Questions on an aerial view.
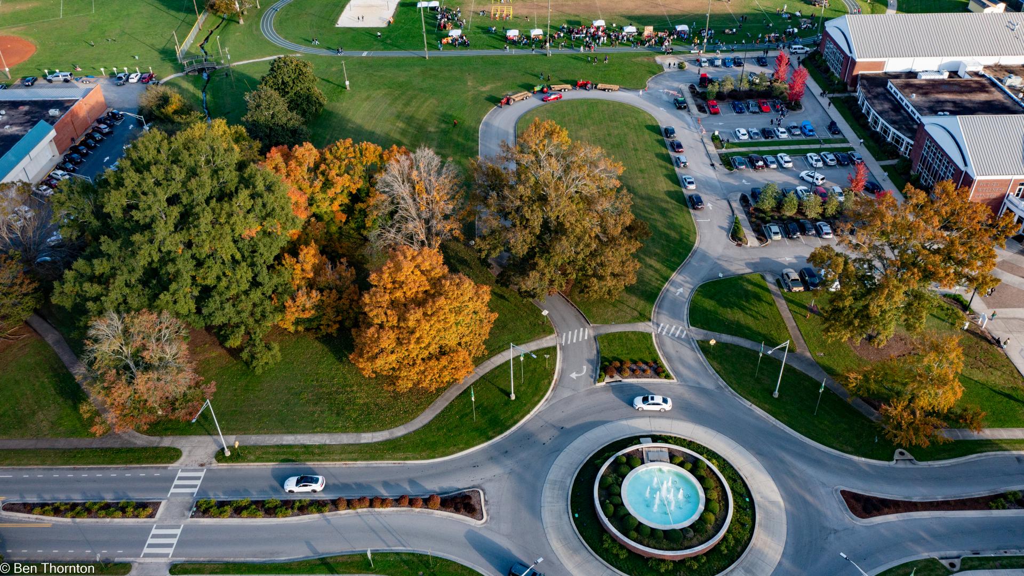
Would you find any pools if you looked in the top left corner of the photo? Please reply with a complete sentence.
No, the scene shows no pool in the top left corner of the photo.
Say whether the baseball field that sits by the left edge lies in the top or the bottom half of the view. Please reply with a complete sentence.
Seen from above, the baseball field that sits by the left edge lies in the top half of the view.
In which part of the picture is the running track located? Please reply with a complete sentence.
The running track appears toward the top of the photo.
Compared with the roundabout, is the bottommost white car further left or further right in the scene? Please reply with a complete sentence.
The bottommost white car appears to the left of the roundabout in this view.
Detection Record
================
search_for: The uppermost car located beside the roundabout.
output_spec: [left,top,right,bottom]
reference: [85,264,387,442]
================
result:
[632,395,673,413]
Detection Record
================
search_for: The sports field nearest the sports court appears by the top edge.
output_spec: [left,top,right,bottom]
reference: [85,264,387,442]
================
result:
[427,0,776,32]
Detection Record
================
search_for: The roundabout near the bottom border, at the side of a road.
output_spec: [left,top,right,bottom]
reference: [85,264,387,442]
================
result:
[541,417,789,576]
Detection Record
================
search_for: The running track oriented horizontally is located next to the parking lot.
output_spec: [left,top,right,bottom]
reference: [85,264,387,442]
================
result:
[261,0,861,56]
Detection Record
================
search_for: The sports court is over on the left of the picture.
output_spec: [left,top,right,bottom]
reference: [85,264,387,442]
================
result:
[336,0,400,27]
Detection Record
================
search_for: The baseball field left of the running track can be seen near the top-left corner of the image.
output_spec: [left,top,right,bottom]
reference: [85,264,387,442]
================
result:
[0,36,35,68]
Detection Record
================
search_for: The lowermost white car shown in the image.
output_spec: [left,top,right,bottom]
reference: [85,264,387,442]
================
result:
[283,475,327,495]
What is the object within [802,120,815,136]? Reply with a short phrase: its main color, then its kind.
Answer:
blue vehicle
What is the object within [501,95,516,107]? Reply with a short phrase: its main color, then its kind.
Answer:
red vehicle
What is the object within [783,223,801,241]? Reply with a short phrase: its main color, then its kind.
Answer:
black car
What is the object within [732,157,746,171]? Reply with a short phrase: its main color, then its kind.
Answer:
blue car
